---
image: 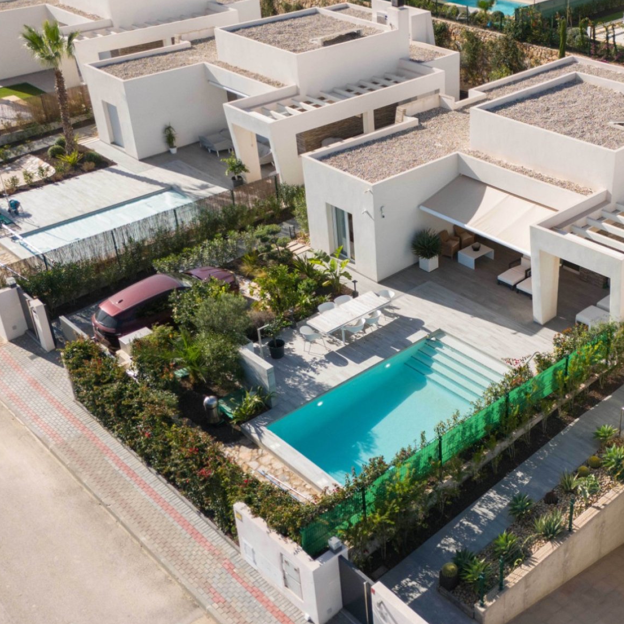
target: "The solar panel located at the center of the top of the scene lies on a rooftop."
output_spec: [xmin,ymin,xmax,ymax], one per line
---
[310,29,363,46]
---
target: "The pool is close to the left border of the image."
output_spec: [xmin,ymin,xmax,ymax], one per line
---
[12,189,208,263]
